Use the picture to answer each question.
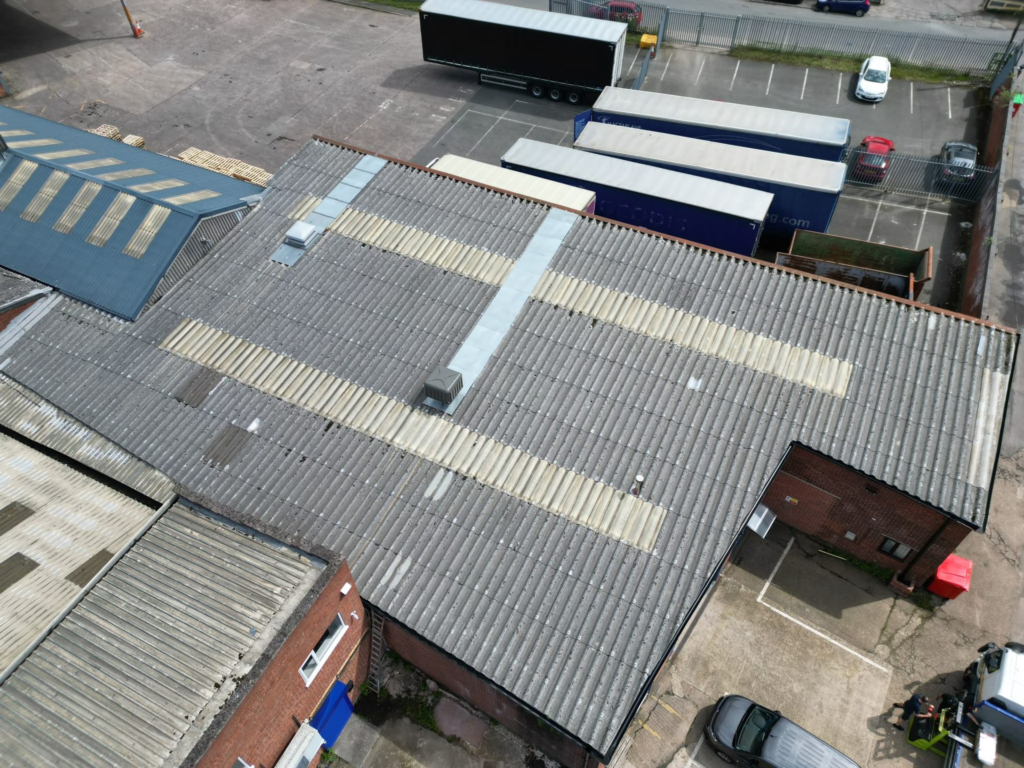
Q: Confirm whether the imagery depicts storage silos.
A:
No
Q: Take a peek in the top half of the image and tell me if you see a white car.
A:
Yes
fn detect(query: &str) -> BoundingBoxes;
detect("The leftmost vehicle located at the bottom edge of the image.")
[694,698,840,768]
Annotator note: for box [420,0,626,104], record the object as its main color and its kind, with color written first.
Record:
black trailer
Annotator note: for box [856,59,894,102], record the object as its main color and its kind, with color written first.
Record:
white car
